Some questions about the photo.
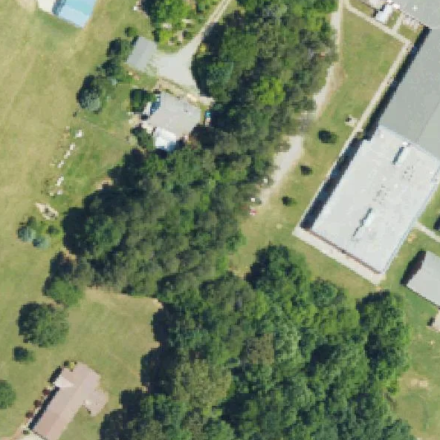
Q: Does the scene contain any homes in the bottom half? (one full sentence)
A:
Yes, a home can be seen in the bottom half.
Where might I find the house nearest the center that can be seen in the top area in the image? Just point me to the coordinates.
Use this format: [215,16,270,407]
[146,92,201,151]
